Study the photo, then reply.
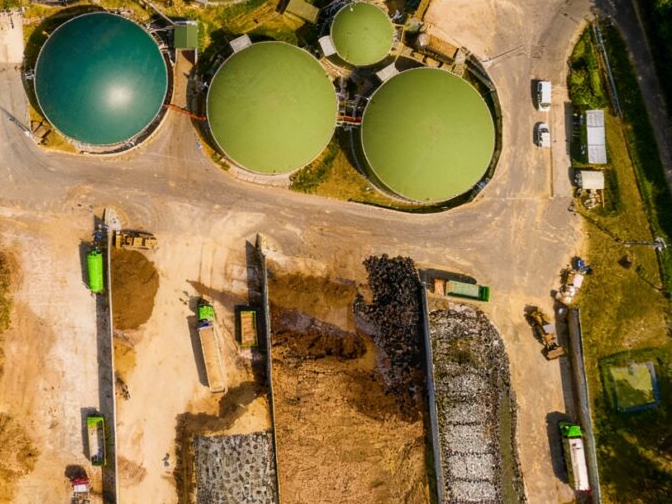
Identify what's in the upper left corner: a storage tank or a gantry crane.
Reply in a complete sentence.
Visible in the upper left corner is a storage tank.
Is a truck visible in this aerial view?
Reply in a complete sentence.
Yes, there's a truck down there.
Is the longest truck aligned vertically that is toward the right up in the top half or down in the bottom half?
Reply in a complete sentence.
It is in the bottom half that the longest truck aligned vertically that is toward the right appears.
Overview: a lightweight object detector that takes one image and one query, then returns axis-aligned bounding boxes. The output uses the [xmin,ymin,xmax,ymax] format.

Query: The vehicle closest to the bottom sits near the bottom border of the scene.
[70,475,89,504]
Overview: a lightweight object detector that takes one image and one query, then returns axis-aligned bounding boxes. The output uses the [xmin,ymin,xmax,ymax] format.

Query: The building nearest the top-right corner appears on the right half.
[578,110,608,164]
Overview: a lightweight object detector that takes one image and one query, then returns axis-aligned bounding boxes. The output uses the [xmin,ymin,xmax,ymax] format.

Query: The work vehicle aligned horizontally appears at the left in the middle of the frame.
[114,232,158,249]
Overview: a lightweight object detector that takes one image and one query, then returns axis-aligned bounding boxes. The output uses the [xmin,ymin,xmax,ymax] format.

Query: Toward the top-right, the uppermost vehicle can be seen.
[535,82,550,112]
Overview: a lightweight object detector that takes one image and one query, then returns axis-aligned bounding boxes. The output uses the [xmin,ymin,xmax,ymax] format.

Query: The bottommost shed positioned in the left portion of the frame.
[174,24,198,51]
